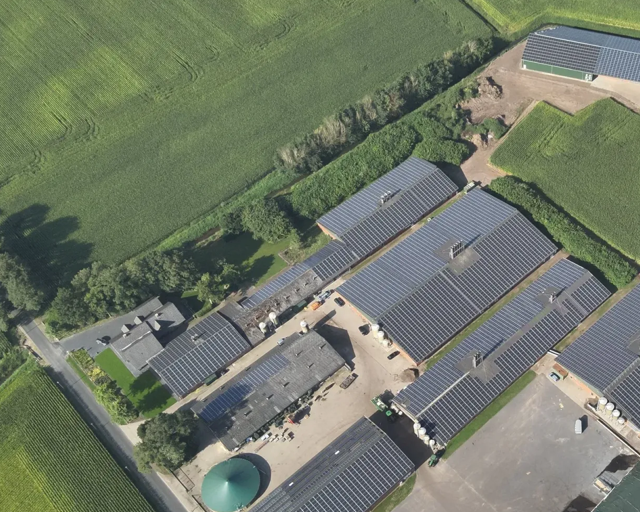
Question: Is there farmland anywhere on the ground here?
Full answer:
Yes, there is farmland in the image.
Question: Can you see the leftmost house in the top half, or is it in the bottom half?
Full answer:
The leftmost house is in the bottom half of the image.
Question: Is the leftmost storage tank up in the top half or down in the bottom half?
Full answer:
Seen from above, the leftmost storage tank lies in the bottom half of the view.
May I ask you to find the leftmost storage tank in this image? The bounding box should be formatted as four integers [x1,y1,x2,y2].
[200,458,262,512]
